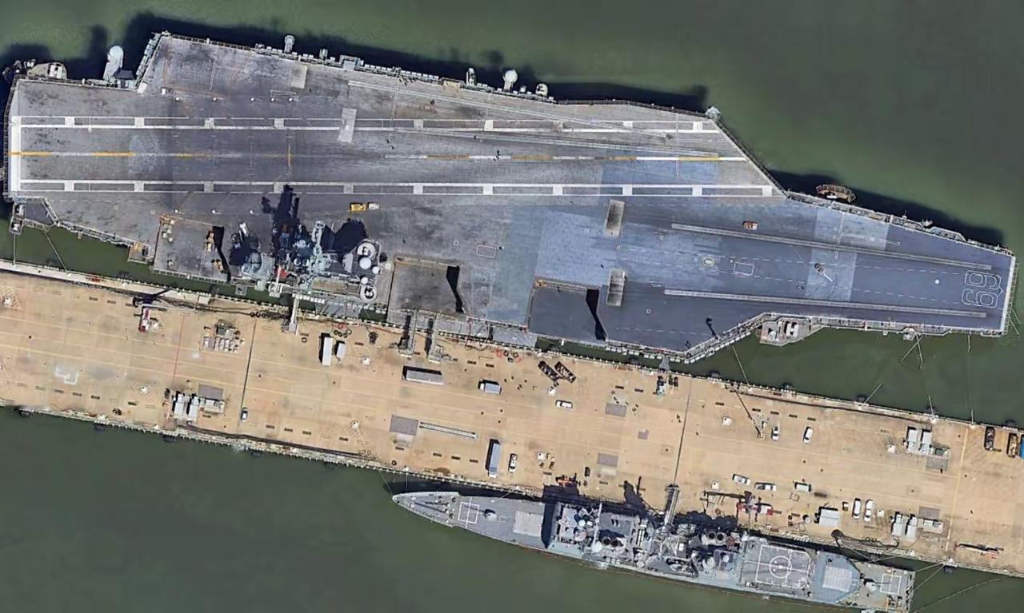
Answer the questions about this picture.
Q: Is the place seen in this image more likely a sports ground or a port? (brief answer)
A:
port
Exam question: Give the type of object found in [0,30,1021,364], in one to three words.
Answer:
ship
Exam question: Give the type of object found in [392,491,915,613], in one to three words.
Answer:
vessel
